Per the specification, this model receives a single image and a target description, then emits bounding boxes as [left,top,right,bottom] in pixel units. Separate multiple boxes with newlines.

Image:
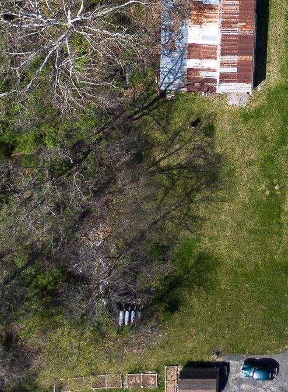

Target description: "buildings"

[177,370,219,392]
[159,0,259,95]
